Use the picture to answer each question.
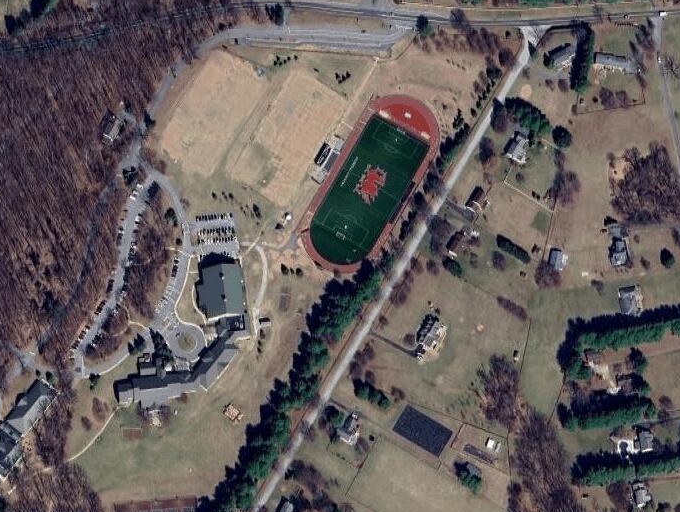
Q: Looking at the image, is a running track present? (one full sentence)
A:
Yes, a running track appears in the view.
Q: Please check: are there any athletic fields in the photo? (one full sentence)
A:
Yes, you can see an athletic field in this photo.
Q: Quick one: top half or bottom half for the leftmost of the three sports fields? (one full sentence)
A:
You can find the leftmost of the three sports fields in the top half.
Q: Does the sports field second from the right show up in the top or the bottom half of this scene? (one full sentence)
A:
You can find the sports field second from the right in the top half.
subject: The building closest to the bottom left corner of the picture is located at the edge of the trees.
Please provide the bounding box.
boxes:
[0,378,61,482]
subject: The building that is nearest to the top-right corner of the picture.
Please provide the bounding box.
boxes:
[594,50,637,73]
